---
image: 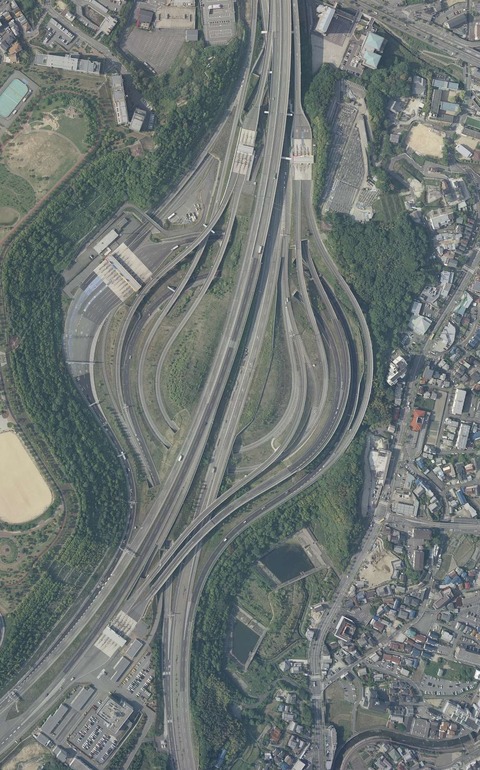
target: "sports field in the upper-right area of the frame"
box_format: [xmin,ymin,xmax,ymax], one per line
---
[407,124,445,158]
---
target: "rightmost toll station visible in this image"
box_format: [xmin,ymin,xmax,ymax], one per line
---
[291,138,314,180]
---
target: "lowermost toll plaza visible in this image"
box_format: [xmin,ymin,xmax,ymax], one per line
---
[95,611,137,657]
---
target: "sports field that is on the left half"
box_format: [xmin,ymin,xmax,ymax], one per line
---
[0,432,52,523]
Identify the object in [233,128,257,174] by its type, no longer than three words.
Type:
toll station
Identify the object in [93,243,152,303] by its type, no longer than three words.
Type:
toll station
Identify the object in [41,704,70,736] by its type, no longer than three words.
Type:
shed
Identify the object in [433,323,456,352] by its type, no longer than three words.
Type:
building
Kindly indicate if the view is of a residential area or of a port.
residential area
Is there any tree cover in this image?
Yes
